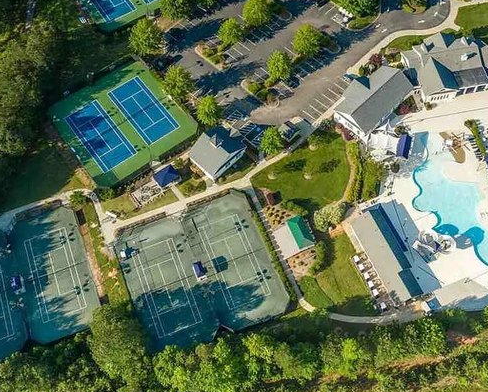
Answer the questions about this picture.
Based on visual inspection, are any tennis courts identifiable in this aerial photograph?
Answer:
Yes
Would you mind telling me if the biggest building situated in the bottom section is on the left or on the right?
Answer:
right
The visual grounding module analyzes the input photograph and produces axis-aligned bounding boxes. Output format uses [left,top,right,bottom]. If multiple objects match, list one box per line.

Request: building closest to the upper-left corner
[153,164,183,194]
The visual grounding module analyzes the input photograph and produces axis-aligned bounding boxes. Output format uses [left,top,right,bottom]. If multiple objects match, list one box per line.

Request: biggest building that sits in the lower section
[351,210,435,310]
